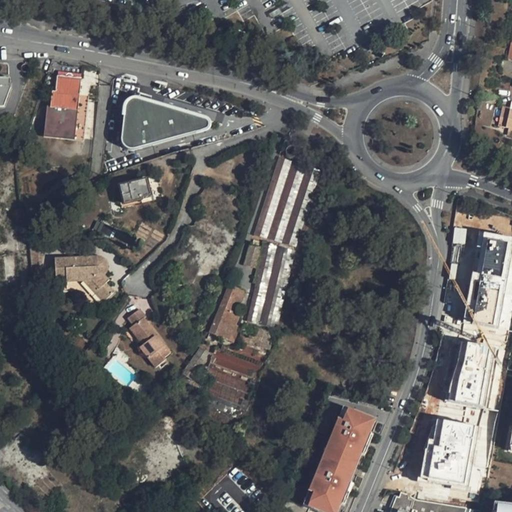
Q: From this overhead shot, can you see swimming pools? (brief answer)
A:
Yes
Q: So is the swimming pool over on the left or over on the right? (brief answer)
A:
left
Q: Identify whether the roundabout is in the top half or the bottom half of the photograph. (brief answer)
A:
top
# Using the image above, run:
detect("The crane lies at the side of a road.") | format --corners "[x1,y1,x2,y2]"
[419,210,494,368]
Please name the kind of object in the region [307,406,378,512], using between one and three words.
building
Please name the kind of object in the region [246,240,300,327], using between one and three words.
building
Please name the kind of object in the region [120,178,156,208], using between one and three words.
house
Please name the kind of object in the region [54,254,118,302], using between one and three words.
house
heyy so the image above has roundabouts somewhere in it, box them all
[362,95,441,174]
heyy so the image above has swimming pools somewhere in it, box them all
[106,348,142,390]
